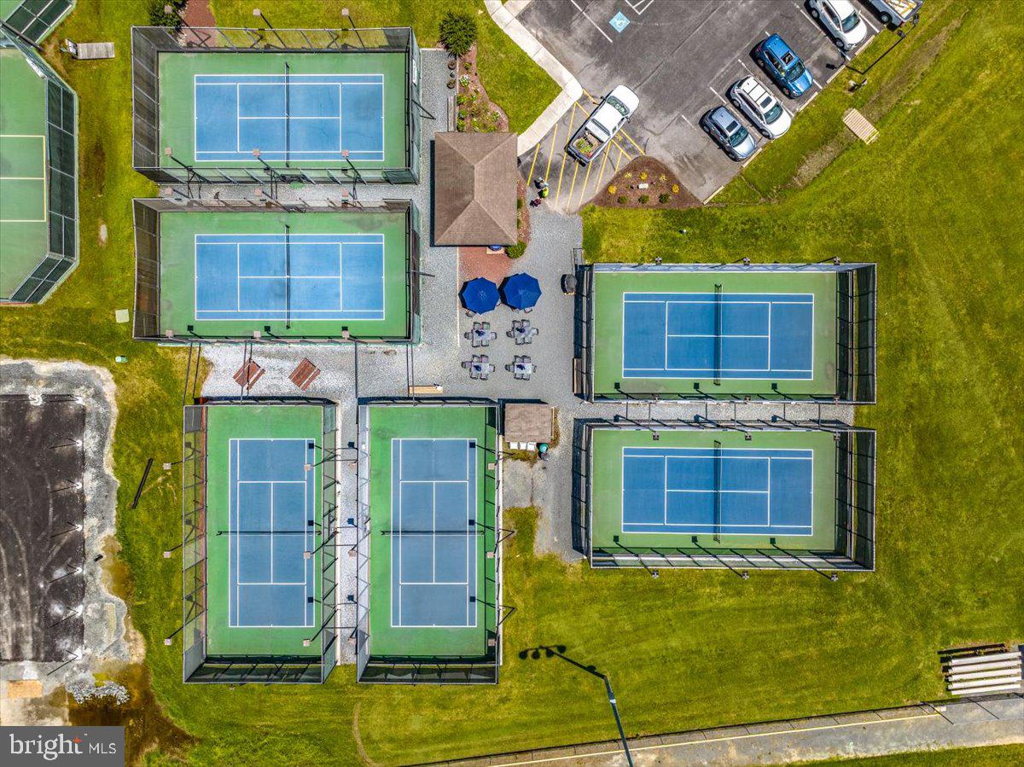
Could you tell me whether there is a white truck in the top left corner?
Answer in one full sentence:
No, there is no white truck in the top left corner.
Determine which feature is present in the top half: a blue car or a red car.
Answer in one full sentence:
The feature located in the top half is a blue car.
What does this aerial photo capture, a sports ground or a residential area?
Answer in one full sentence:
This image shows a sports ground.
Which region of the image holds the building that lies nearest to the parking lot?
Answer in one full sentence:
The building that lies nearest to the parking lot appears toward the top of the photo.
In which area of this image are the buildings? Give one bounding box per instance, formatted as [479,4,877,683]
[434,132,518,248]
[505,404,552,442]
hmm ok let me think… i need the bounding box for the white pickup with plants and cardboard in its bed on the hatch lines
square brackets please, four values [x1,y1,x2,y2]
[568,85,639,164]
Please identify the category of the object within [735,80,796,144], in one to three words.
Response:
car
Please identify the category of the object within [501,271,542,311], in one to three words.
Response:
umbrella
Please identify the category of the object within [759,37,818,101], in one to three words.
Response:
car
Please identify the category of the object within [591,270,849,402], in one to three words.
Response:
tennis court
